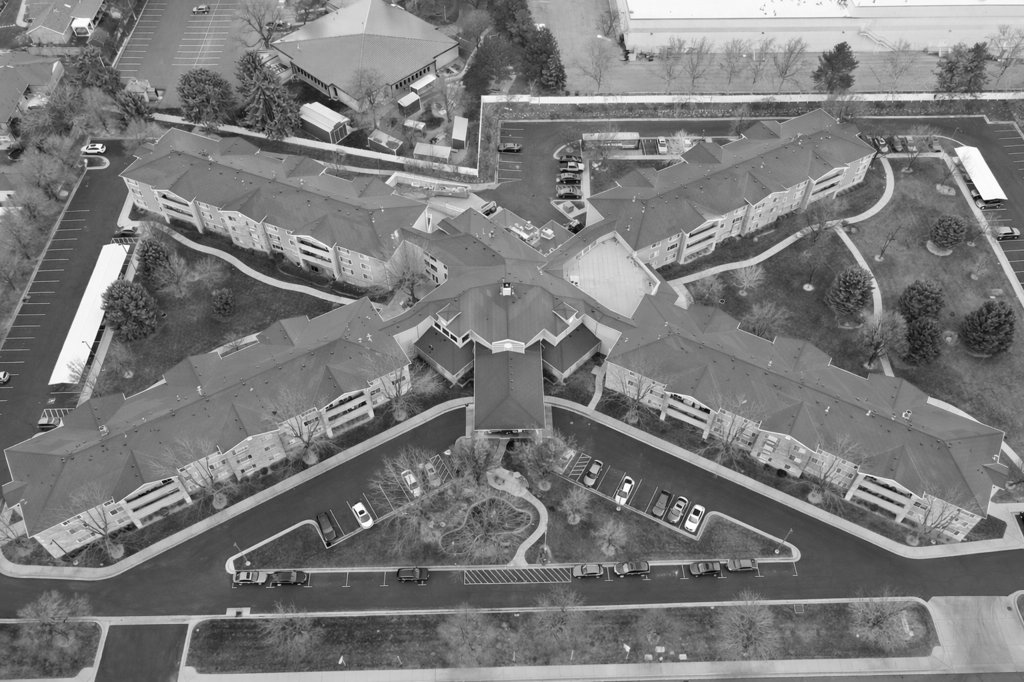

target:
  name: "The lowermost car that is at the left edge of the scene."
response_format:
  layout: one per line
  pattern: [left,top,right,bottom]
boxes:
[34,415,66,430]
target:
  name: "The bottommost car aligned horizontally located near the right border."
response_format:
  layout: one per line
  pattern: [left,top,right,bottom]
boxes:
[993,227,1019,239]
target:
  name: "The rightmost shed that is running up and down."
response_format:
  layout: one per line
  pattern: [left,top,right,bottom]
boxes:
[452,116,468,151]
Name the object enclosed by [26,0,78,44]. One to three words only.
house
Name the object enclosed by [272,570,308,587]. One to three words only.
car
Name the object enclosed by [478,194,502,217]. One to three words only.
vehicle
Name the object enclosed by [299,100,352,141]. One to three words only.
barn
